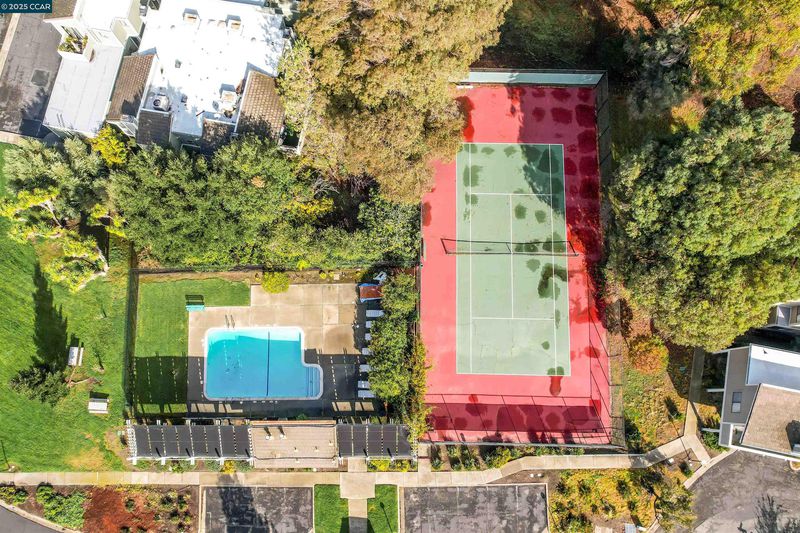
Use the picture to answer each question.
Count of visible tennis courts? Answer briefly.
1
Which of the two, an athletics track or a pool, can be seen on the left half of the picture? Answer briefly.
pool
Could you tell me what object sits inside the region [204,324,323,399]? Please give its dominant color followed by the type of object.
blue swimming pool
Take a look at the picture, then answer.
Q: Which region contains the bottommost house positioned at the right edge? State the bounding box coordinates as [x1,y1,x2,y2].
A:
[701,347,800,462]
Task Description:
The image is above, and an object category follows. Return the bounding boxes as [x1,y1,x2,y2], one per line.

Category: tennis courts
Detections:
[417,84,609,446]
